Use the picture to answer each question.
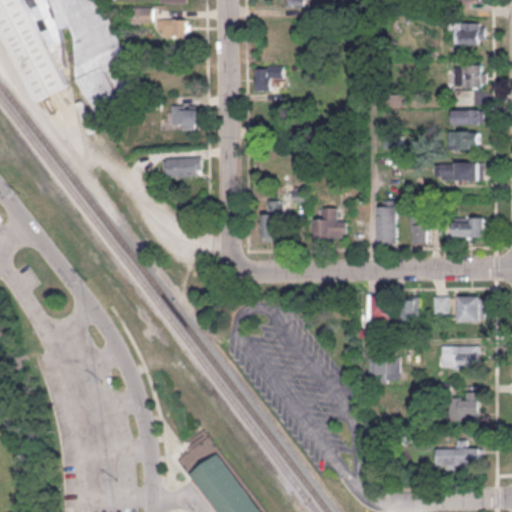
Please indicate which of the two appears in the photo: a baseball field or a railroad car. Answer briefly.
railroad car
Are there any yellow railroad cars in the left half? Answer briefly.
No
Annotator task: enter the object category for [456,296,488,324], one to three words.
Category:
house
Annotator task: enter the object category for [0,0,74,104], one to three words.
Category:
building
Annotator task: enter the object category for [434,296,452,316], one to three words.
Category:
building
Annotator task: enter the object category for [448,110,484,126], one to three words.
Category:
house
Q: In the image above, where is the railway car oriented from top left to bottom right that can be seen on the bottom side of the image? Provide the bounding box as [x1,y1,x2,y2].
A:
[160,296,188,331]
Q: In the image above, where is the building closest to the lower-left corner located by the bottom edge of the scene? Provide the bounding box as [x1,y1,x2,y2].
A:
[190,454,263,512]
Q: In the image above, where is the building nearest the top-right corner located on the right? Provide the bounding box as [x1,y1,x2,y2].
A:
[444,24,488,46]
